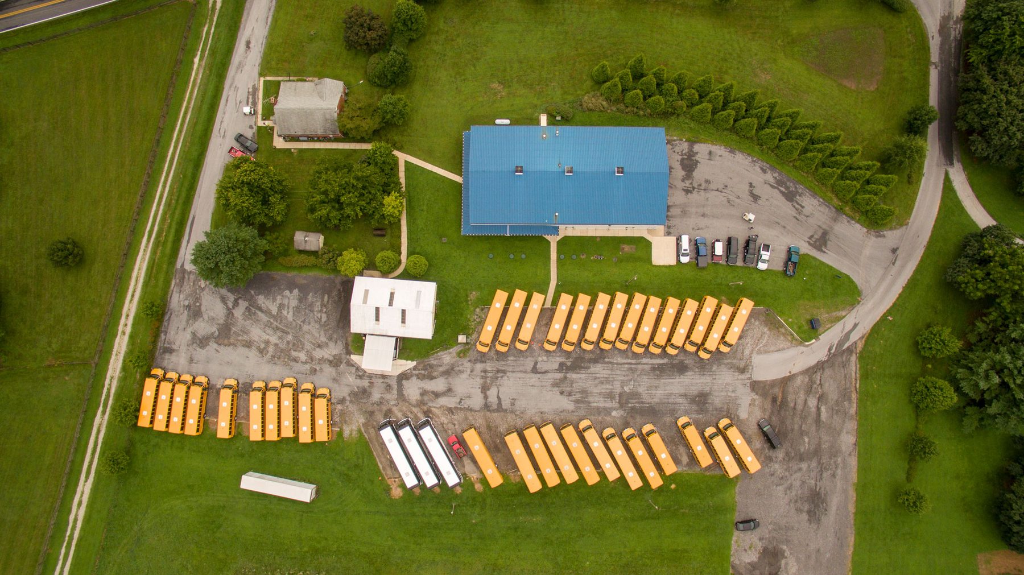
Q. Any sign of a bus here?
Yes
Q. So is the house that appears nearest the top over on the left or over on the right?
left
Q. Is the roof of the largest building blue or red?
blue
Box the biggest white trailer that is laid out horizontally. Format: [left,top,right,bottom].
[240,471,316,502]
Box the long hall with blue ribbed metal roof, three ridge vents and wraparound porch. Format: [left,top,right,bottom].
[459,124,670,238]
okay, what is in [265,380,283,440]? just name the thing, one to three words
vehicle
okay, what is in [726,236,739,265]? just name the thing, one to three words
vehicle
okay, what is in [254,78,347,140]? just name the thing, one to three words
house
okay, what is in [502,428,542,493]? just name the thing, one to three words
bus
